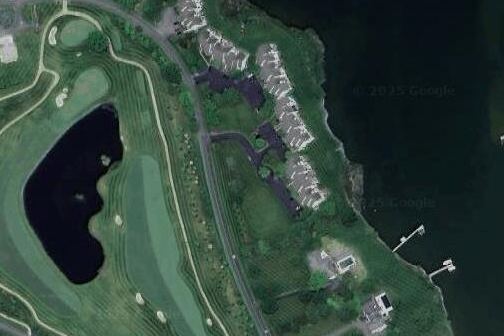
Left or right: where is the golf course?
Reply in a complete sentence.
You can find the golf course on the left side of the picture.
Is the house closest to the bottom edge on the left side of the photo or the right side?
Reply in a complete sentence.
The house closest to the bottom edge is on the right side of the image.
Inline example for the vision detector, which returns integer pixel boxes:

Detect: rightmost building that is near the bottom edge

[359,298,388,334]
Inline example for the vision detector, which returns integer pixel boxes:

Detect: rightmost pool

[374,292,393,313]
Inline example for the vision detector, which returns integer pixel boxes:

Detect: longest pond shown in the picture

[23,104,123,283]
